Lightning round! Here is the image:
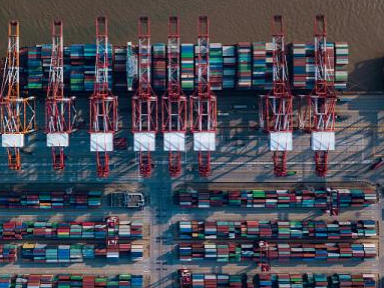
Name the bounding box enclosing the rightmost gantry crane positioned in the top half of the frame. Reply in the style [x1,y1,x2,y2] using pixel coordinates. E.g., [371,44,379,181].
[291,15,337,177]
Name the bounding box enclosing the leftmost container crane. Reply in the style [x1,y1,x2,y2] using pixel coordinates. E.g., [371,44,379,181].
[0,20,45,173]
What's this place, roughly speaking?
port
